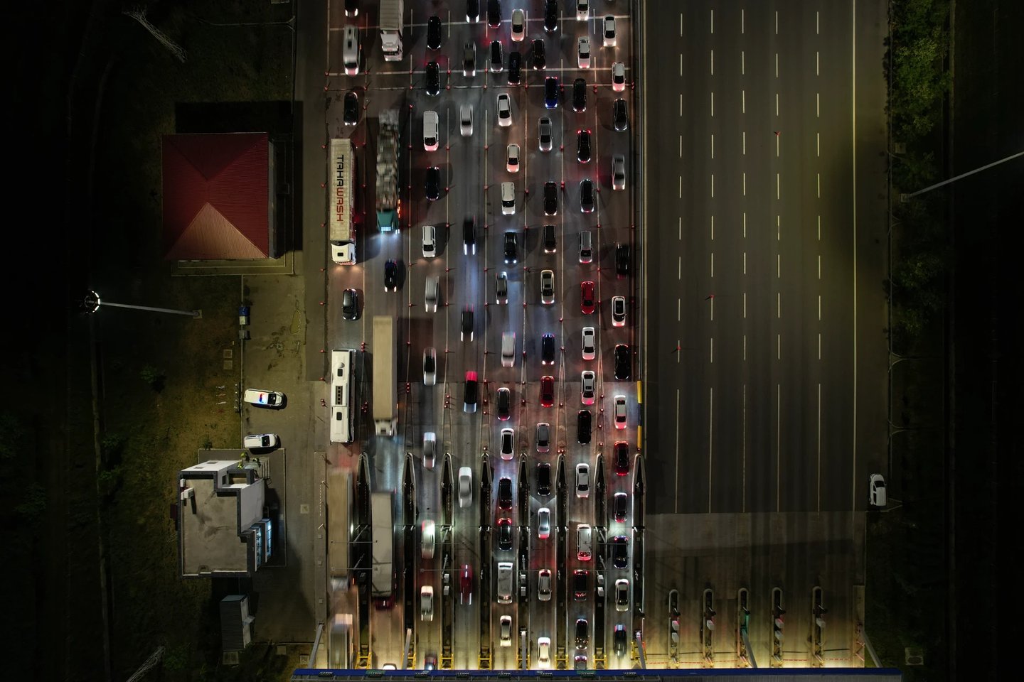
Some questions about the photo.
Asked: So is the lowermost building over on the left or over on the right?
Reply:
left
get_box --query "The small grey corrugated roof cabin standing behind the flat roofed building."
[220,594,259,656]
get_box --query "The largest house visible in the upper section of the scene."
[161,132,275,260]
